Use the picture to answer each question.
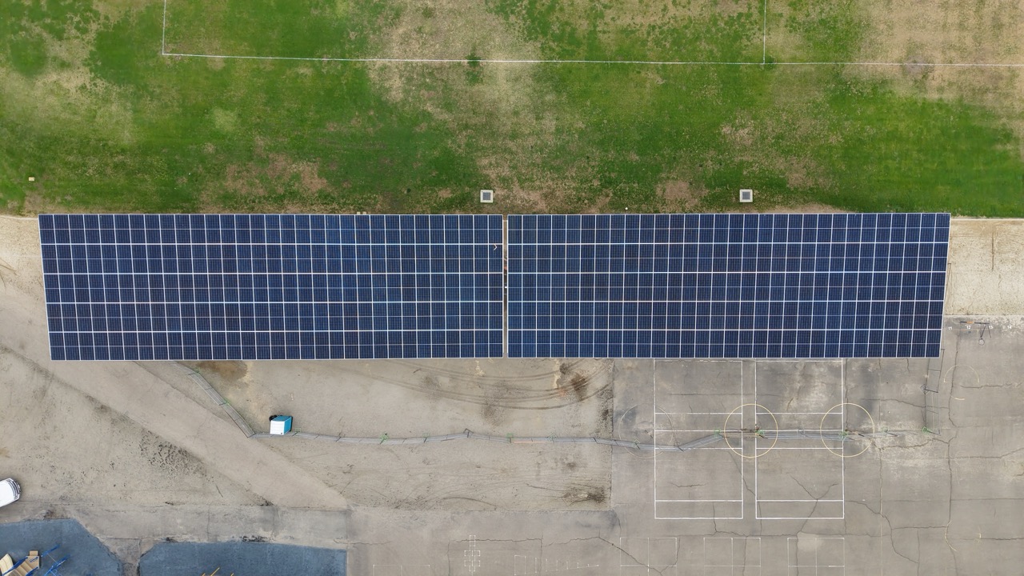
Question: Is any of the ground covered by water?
No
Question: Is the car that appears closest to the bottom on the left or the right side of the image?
left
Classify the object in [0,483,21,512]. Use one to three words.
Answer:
car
